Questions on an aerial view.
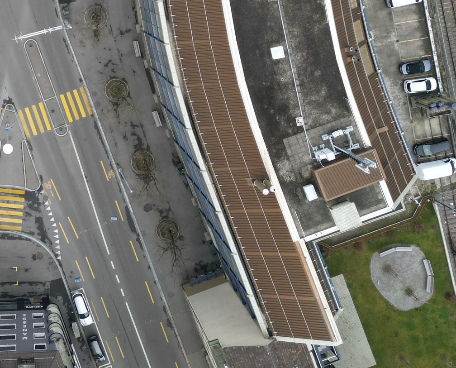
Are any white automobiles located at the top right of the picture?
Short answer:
Yes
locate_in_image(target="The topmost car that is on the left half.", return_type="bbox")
[71,288,94,327]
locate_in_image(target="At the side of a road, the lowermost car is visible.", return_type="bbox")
[86,332,107,363]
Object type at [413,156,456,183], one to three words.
vehicle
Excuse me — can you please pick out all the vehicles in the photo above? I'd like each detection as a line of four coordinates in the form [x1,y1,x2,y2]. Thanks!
[411,137,451,157]
[401,76,437,94]
[413,156,456,183]
[384,0,423,7]
[71,288,94,327]
[86,332,107,363]
[397,58,431,76]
